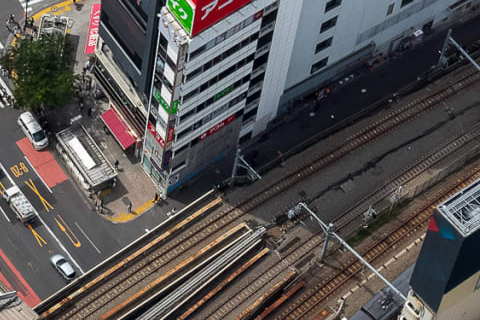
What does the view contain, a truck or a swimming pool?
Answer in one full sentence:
Of the two, only a truck appears.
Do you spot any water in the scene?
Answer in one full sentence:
No, there is no water in the image.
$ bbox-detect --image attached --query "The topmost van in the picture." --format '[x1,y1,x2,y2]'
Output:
[18,112,48,149]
